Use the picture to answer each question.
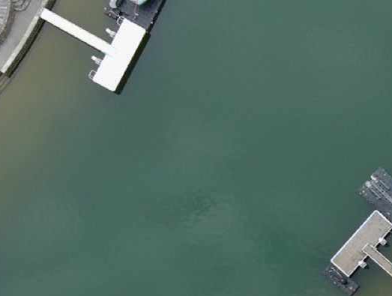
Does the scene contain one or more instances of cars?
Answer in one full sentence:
No, this view has no car in it.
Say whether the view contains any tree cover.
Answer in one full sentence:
No, no tree cover is visible.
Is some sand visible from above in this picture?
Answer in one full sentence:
No, there is no sand in the image.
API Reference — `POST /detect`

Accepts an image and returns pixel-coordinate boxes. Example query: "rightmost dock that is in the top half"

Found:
[128,0,171,32]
